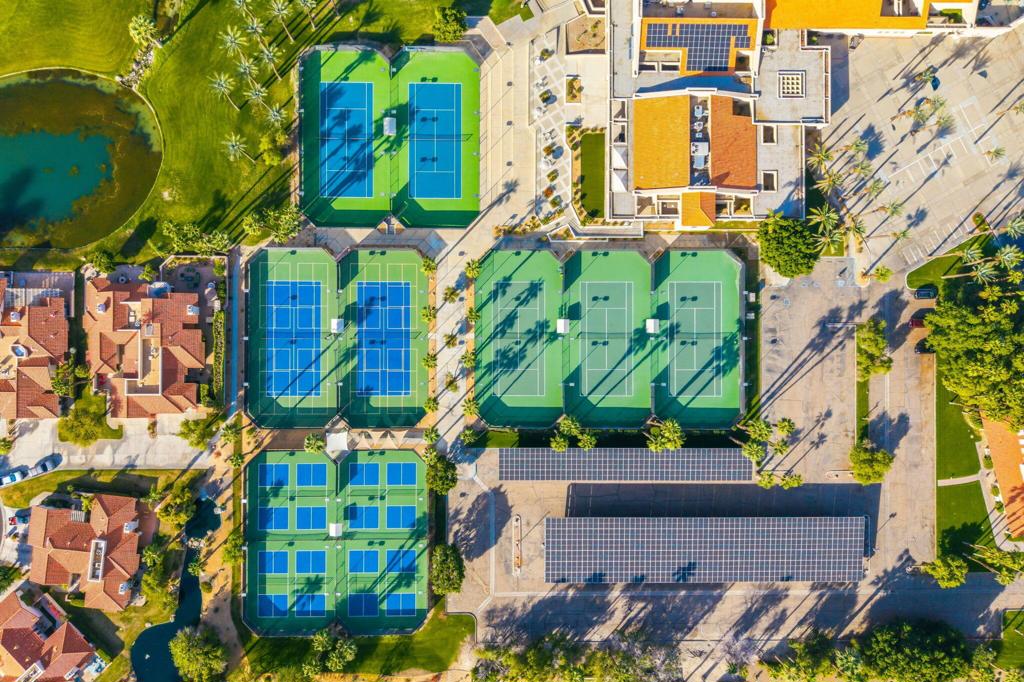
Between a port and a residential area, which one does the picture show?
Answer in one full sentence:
The area seen from above is a residential area.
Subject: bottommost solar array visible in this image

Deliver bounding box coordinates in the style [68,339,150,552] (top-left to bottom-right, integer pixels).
[545,517,865,583]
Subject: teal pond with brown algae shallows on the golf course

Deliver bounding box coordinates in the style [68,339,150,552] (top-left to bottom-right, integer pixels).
[0,68,163,249]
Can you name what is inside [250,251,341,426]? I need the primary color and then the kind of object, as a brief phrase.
blue tennis court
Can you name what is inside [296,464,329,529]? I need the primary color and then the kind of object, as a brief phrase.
blue sports court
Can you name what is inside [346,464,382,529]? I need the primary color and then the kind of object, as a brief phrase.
blue sports court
